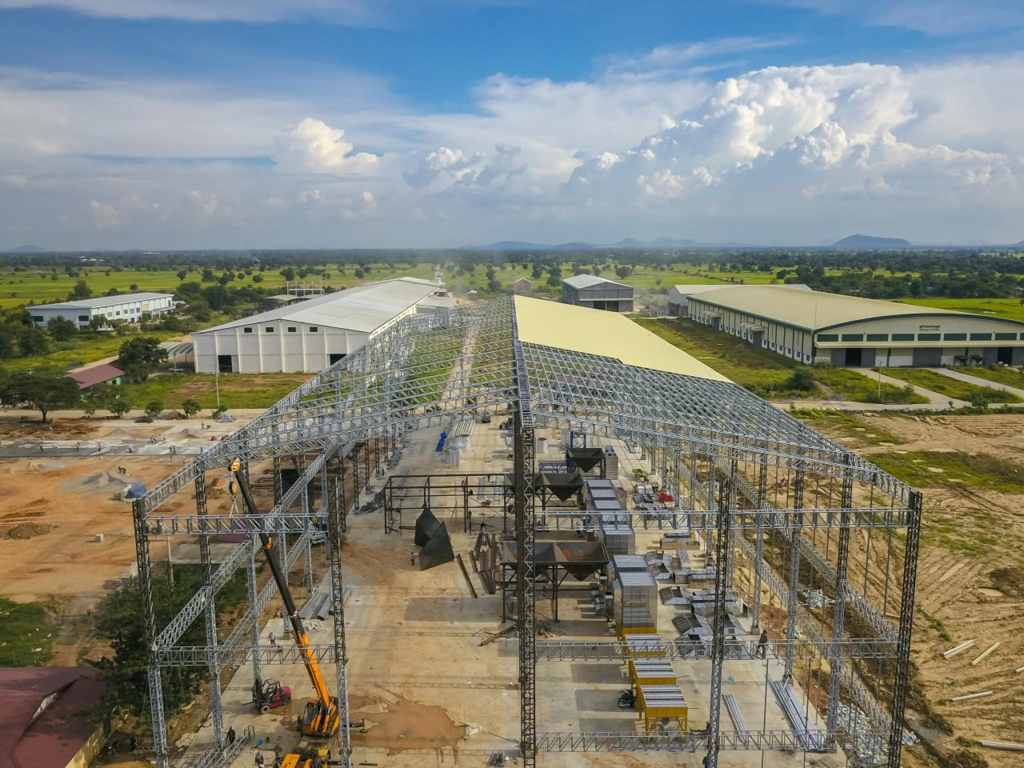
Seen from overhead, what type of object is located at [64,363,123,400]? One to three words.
building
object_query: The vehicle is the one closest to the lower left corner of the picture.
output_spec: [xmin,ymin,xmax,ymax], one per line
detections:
[240,680,295,717]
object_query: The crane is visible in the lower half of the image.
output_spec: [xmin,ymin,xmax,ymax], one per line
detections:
[224,454,374,768]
